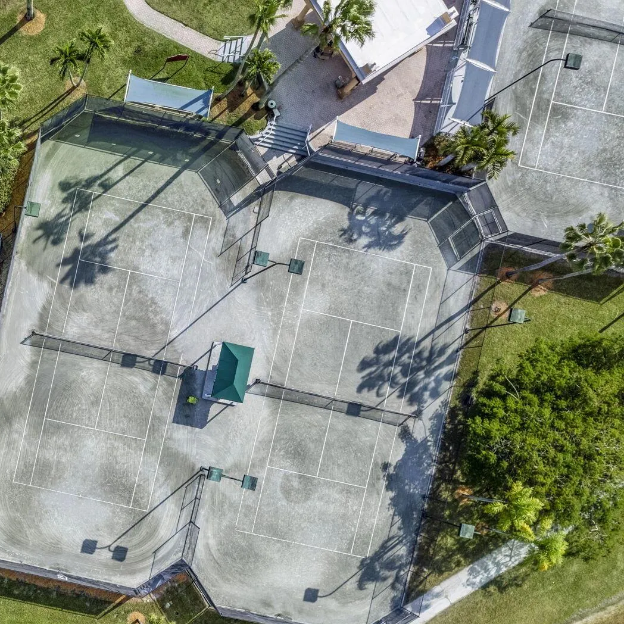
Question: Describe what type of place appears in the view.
sports ground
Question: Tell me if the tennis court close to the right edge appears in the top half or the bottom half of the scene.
top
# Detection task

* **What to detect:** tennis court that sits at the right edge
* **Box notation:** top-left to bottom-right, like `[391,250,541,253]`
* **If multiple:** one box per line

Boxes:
[468,0,624,256]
